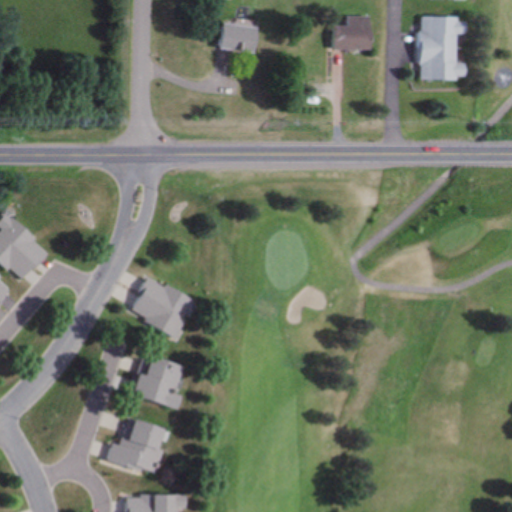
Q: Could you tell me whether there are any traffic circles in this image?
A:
No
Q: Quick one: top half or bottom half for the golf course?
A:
bottom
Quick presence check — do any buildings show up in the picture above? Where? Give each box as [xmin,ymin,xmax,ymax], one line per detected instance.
[127,494,151,512]
[107,420,170,473]
[137,360,182,409]
[333,16,375,56]
[0,274,10,302]
[220,6,258,54]
[154,494,187,512]
[414,16,469,82]
[0,214,48,278]
[132,274,192,342]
